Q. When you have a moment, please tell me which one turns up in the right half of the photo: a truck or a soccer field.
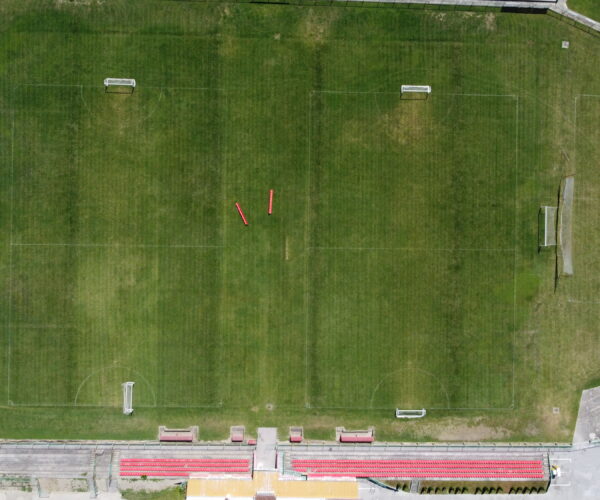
soccer field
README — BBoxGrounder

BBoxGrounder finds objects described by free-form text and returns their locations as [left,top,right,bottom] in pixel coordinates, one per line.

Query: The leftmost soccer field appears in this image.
[0,83,223,406]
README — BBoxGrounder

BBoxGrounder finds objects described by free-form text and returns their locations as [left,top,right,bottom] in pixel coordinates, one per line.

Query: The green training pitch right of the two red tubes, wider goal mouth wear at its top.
[305,89,520,411]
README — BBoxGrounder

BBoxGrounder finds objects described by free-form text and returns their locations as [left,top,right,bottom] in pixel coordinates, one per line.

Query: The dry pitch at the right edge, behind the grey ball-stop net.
[573,94,600,304]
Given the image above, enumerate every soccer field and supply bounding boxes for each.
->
[0,83,223,406]
[305,89,520,411]
[573,94,600,304]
